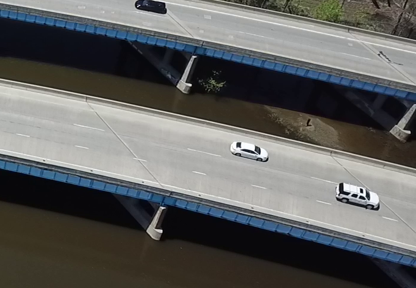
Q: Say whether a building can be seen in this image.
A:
No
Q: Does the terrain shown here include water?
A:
Yes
